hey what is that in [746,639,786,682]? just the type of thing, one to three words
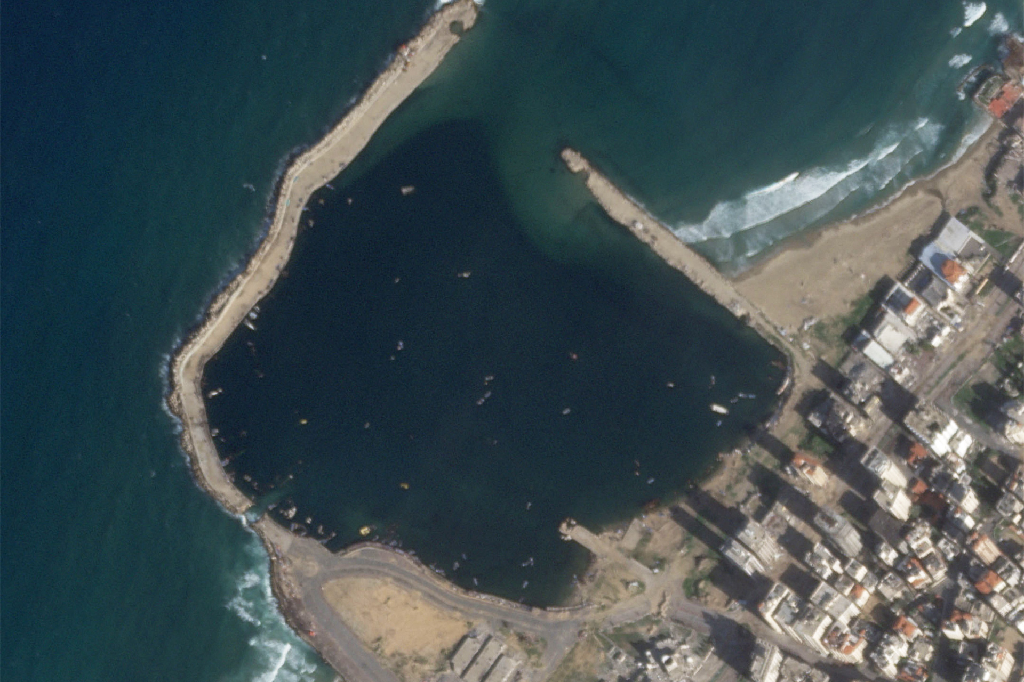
building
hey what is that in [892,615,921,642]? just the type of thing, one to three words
house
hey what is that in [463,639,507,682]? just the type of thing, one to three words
shed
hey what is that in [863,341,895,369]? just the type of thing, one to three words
building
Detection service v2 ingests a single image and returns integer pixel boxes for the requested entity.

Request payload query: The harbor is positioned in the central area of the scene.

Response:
[201,44,794,608]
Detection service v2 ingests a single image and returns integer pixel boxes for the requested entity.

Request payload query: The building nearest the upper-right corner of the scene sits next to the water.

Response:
[989,82,1022,119]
